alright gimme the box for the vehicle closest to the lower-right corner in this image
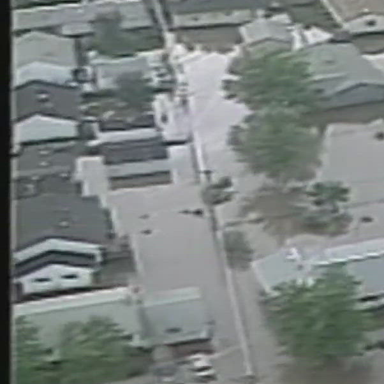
[185,353,220,384]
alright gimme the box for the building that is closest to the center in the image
[98,127,167,178]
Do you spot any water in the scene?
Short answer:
Yes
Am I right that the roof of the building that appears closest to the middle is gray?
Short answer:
Yes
